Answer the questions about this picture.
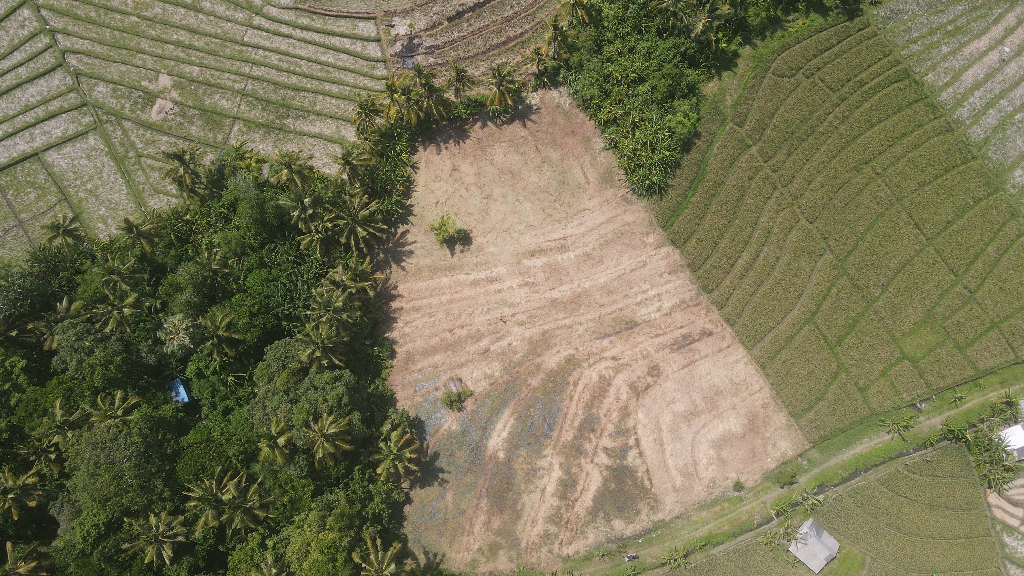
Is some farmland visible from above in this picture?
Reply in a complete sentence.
Yes, there's farmland in this view.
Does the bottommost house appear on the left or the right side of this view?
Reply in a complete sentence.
The bottommost house appears in the right half of the scene.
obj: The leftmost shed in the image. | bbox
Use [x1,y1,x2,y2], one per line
[169,377,197,407]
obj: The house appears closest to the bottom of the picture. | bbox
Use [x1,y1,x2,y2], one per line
[785,516,840,574]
